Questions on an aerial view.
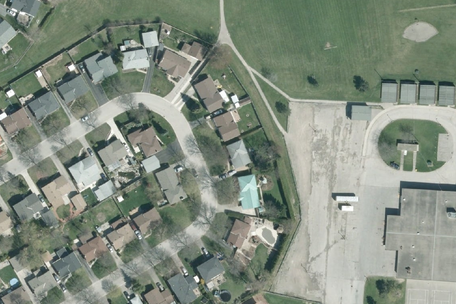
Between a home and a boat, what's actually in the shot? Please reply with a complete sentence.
Looking from above, you can make out a home.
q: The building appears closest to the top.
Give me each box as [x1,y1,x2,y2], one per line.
[9,0,40,18]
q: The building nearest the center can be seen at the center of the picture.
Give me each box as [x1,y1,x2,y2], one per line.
[224,140,250,171]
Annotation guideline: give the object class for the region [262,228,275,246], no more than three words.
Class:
swimming pool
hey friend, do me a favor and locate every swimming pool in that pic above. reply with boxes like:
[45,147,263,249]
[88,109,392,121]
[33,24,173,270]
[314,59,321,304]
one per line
[262,228,275,246]
[220,291,232,302]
